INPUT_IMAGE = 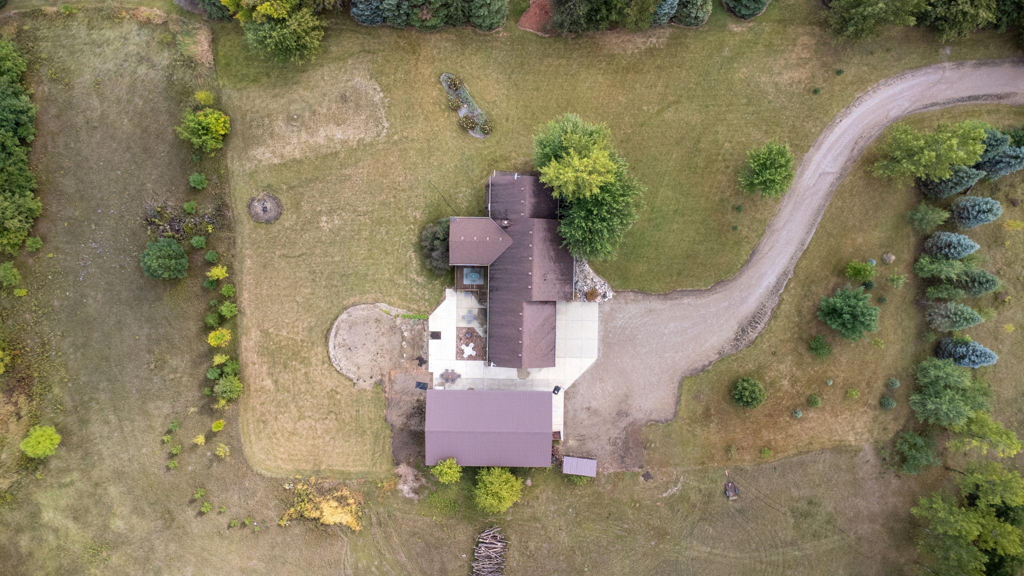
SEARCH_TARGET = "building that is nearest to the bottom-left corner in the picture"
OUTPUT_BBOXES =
[424,388,553,467]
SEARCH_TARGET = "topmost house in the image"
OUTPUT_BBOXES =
[449,175,575,368]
